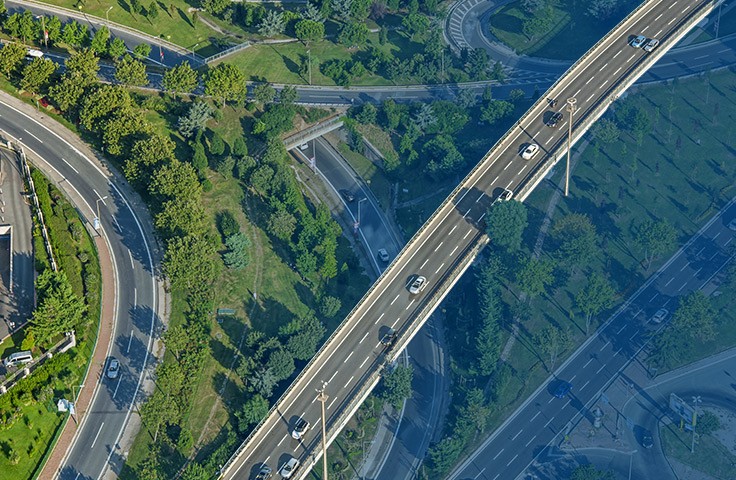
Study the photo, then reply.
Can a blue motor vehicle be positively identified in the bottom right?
Yes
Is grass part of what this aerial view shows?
Yes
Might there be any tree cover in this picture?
Yes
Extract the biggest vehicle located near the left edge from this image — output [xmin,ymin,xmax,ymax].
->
[4,349,32,366]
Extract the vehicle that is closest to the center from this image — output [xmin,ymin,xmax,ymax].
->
[377,246,390,262]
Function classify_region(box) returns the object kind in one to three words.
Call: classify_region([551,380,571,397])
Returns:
car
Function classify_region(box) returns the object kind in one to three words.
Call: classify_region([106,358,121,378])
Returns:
car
